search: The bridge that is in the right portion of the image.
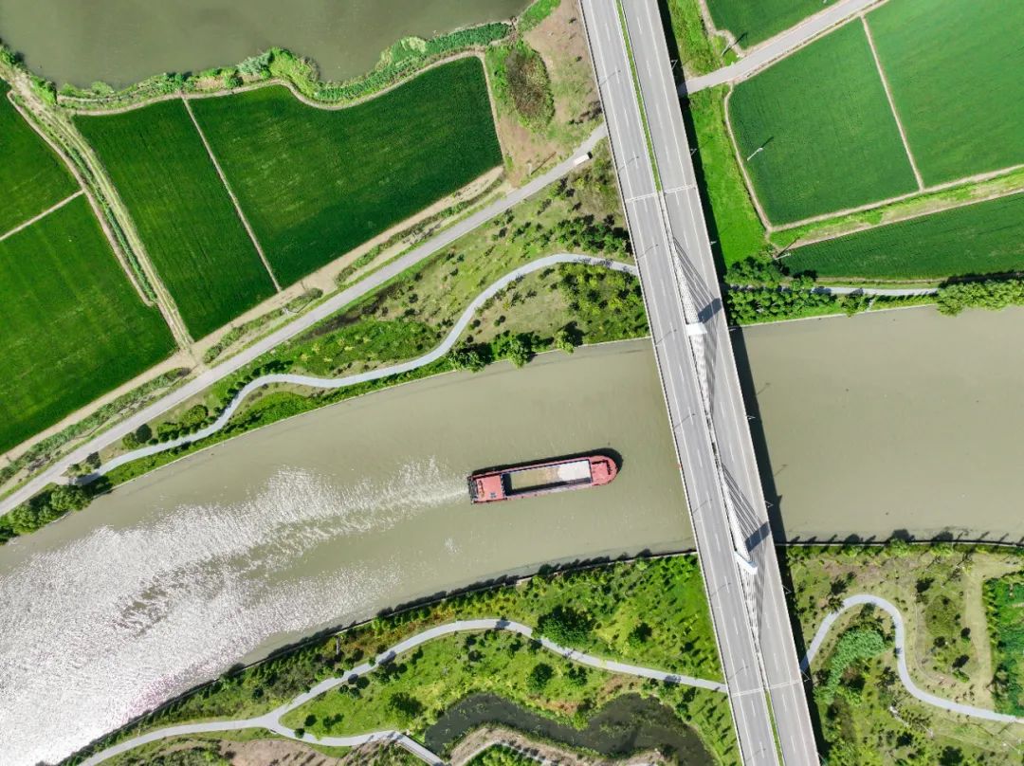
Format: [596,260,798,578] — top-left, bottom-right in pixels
[579,0,821,766]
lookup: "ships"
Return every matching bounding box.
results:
[467,459,620,507]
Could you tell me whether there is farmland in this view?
Yes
